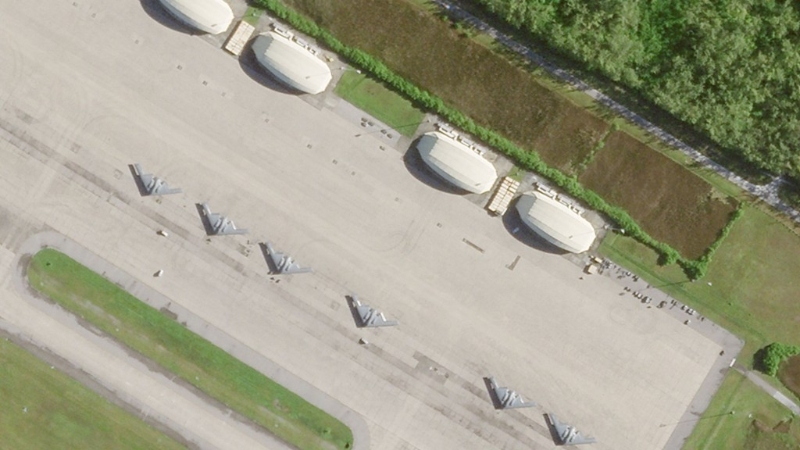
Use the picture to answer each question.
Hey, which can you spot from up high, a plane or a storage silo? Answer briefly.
plane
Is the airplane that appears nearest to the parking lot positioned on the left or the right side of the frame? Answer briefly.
right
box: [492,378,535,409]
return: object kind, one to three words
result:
airplane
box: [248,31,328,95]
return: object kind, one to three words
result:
hangar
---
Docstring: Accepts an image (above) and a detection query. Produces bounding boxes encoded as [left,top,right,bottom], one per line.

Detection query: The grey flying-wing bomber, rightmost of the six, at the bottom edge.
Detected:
[552,414,595,445]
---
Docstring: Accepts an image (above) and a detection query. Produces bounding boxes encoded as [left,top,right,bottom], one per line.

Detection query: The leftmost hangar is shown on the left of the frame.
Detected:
[155,0,228,31]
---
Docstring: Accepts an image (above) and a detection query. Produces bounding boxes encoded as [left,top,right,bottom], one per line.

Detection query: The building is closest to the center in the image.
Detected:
[415,134,493,196]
